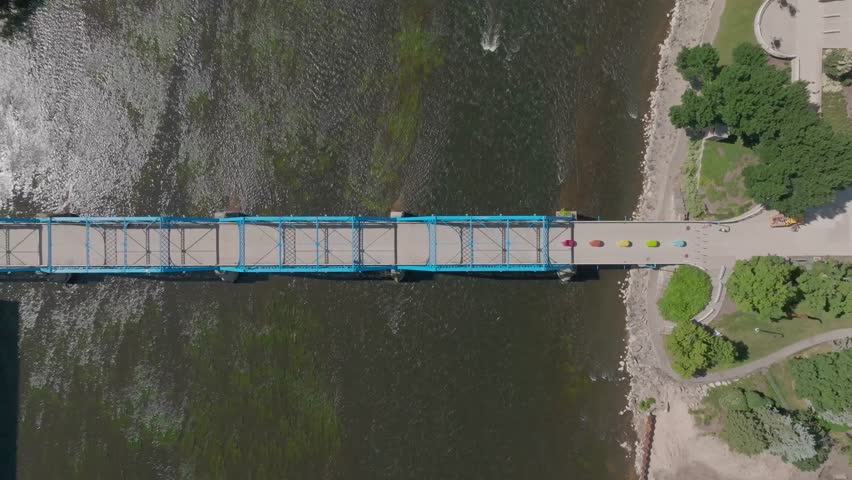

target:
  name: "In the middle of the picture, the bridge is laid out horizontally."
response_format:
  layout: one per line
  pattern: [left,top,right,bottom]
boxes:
[0,213,707,281]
